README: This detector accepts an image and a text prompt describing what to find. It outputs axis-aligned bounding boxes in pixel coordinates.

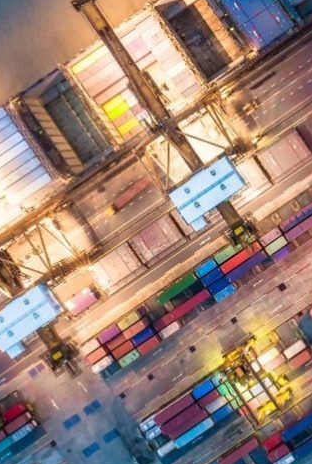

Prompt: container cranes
[225,334,298,423]
[66,0,257,249]
[0,202,99,371]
